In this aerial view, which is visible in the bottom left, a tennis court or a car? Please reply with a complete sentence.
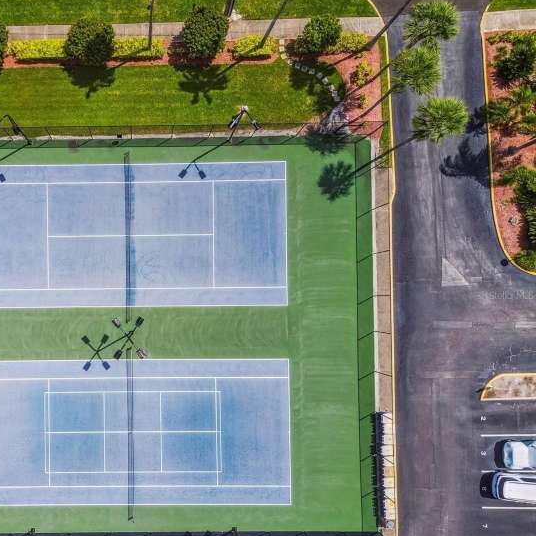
You can see a tennis court in the bottom left.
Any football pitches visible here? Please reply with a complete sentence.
No, no football pitch is visible in the view.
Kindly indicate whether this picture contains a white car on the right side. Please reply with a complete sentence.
Yes, you'll find a white car on the right side.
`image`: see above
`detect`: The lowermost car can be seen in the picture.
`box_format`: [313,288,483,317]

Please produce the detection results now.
[488,470,536,502]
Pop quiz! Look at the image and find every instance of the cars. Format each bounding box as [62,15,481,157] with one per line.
[488,470,536,502]
[500,439,536,471]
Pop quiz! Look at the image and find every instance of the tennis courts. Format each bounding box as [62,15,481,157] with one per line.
[0,160,288,308]
[0,359,291,506]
